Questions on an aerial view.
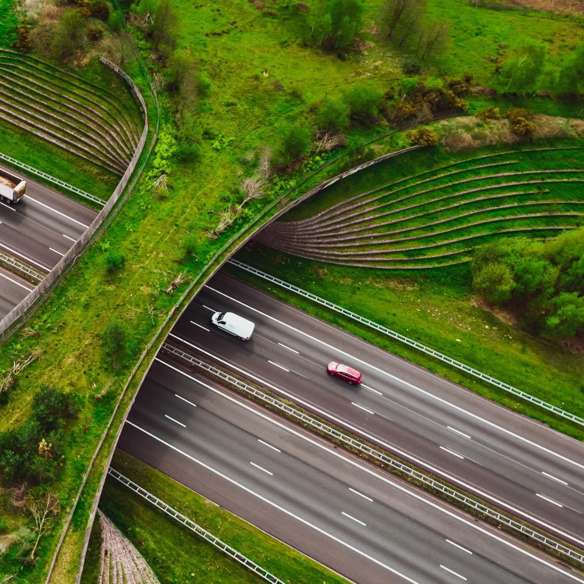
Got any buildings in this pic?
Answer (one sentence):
No, the picture doesn't show any building.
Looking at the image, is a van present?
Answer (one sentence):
Yes, this view includes a van.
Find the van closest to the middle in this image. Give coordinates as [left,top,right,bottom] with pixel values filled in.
[215,316,260,344]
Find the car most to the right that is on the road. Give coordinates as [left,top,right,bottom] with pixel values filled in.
[327,365,363,389]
